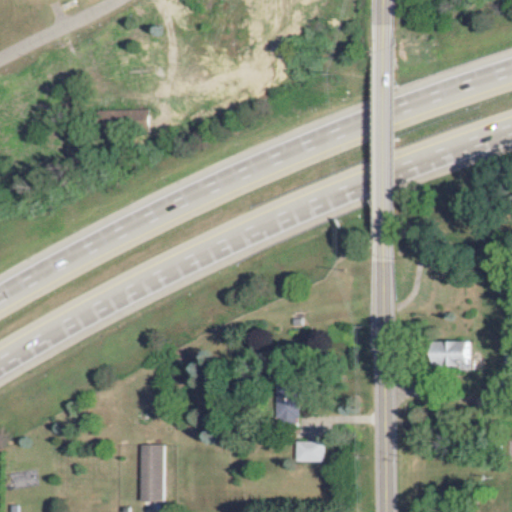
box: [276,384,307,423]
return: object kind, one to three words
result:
house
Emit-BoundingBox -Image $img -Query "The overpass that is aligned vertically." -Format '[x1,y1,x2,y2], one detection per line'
[370,22,395,262]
